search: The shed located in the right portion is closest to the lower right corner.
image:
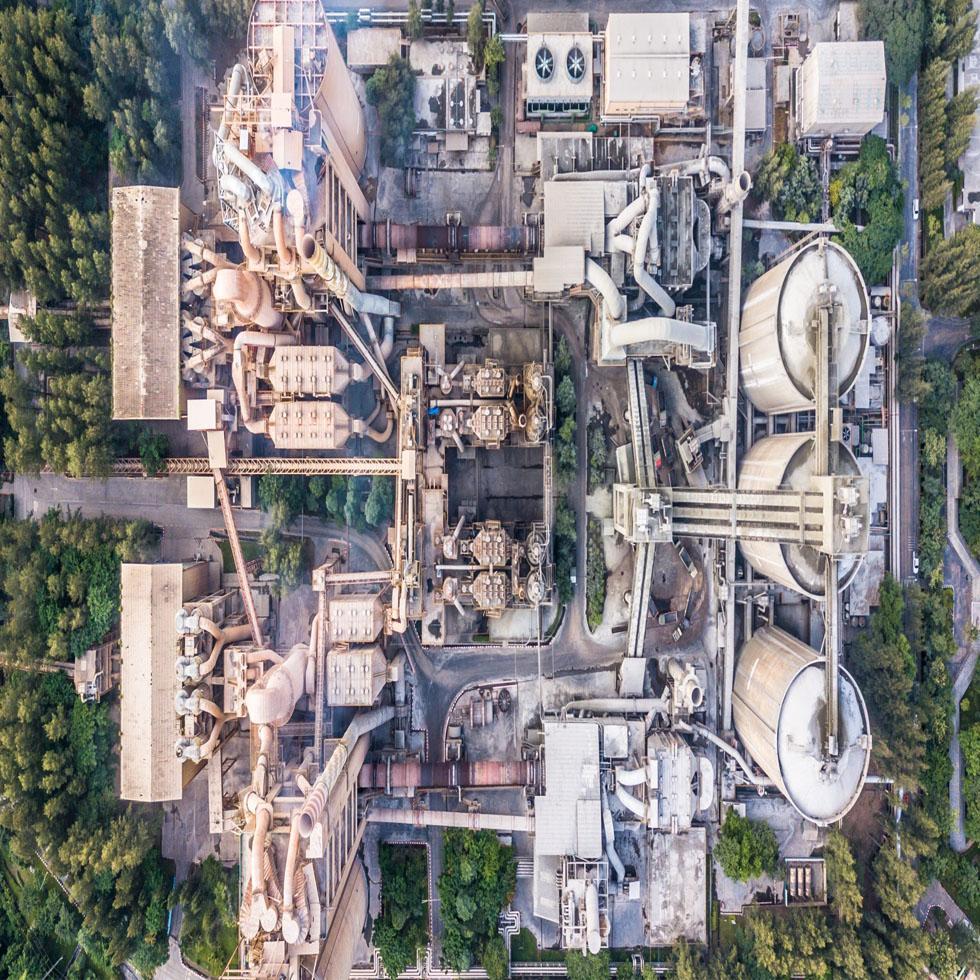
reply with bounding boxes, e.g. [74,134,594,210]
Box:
[798,814,818,840]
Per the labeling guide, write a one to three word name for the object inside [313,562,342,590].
house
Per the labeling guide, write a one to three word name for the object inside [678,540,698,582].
vehicle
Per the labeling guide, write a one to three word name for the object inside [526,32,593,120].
cooling tower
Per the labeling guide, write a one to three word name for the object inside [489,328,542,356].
shed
